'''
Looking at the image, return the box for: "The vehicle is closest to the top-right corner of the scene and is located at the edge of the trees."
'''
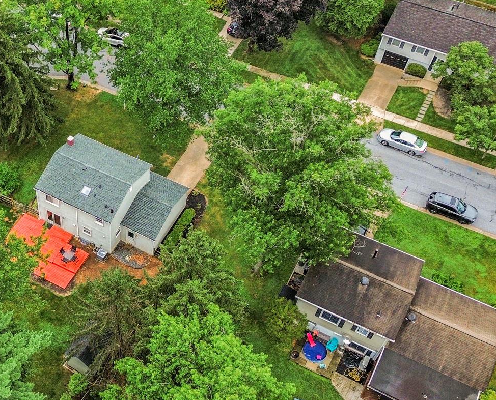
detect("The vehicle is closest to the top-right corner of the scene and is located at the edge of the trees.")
[378,127,430,156]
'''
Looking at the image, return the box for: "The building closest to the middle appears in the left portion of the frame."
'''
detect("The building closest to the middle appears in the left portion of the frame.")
[118,170,190,261]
